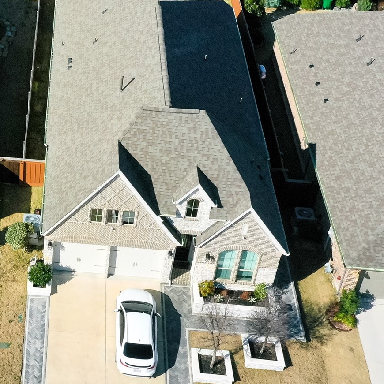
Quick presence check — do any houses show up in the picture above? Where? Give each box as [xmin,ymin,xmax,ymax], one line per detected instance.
[37,0,295,288]
[271,9,384,300]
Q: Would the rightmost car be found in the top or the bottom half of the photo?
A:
bottom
